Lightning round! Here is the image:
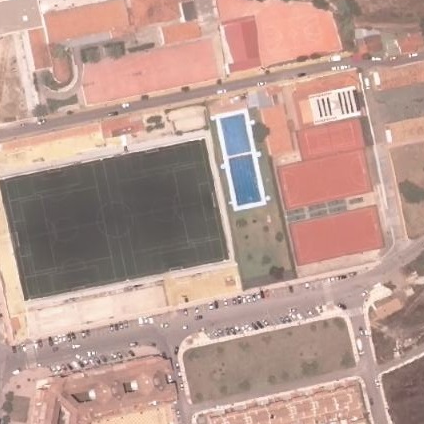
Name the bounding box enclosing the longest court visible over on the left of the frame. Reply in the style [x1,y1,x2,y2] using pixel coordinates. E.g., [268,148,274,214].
[83,37,219,104]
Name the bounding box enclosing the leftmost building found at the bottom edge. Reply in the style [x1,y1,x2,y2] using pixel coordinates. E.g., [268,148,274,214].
[27,354,180,424]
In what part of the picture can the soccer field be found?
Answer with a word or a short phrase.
left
